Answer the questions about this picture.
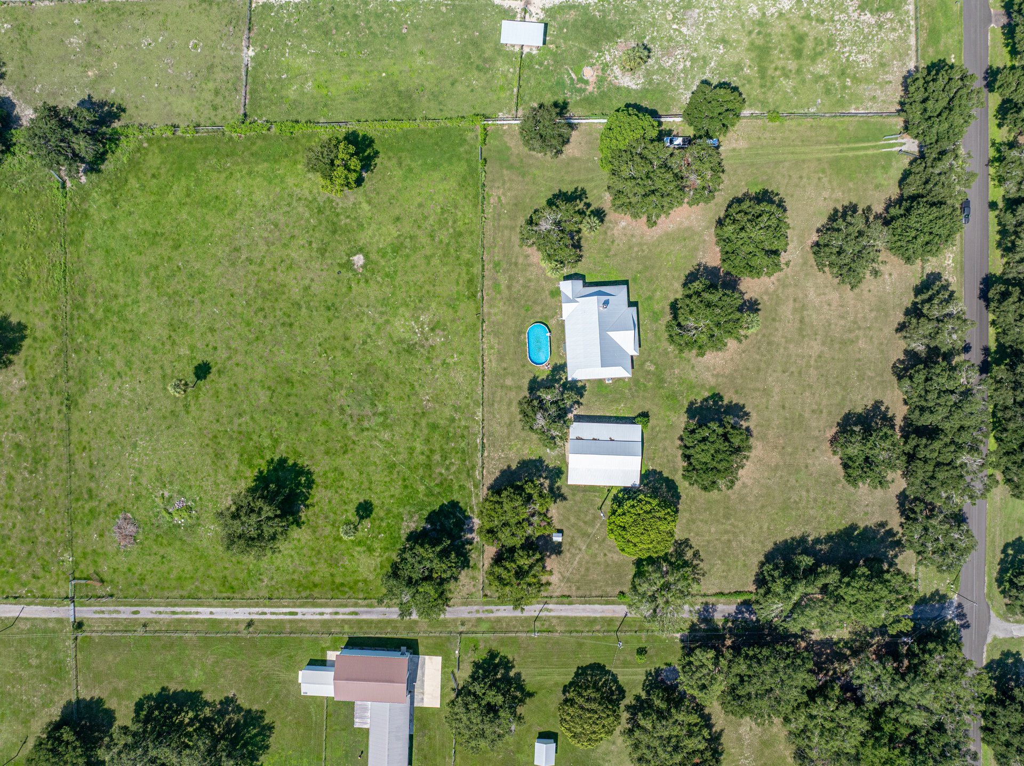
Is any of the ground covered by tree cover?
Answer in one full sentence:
Yes, there is tree cover in the image.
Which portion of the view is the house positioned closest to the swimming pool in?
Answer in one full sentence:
You can find the house positioned closest to the swimming pool in the center area of the picture.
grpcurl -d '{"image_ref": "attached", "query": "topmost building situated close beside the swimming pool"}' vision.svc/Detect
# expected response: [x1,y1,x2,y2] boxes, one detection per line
[560,280,639,380]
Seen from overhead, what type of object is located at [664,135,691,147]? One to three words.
vehicle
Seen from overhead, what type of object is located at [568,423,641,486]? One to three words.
barn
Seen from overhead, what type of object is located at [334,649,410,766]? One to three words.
building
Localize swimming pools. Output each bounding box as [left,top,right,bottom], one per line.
[526,323,550,366]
